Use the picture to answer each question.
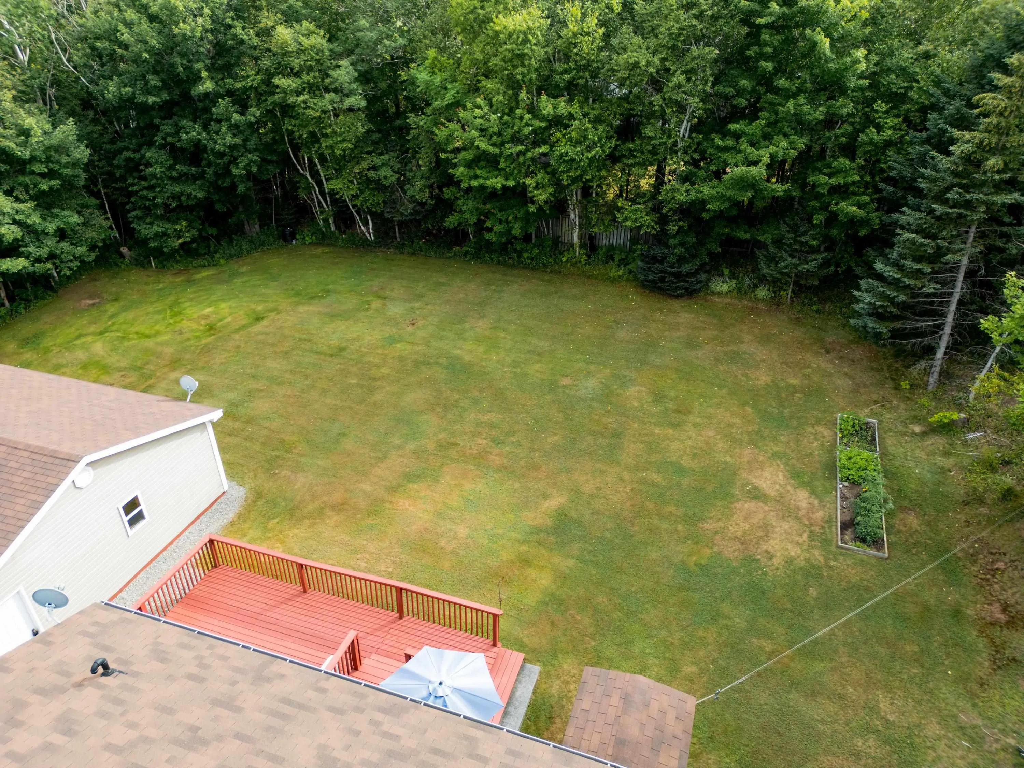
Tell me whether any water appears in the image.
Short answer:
No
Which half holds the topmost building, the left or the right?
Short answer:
left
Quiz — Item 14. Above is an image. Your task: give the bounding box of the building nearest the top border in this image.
[0,363,228,656]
